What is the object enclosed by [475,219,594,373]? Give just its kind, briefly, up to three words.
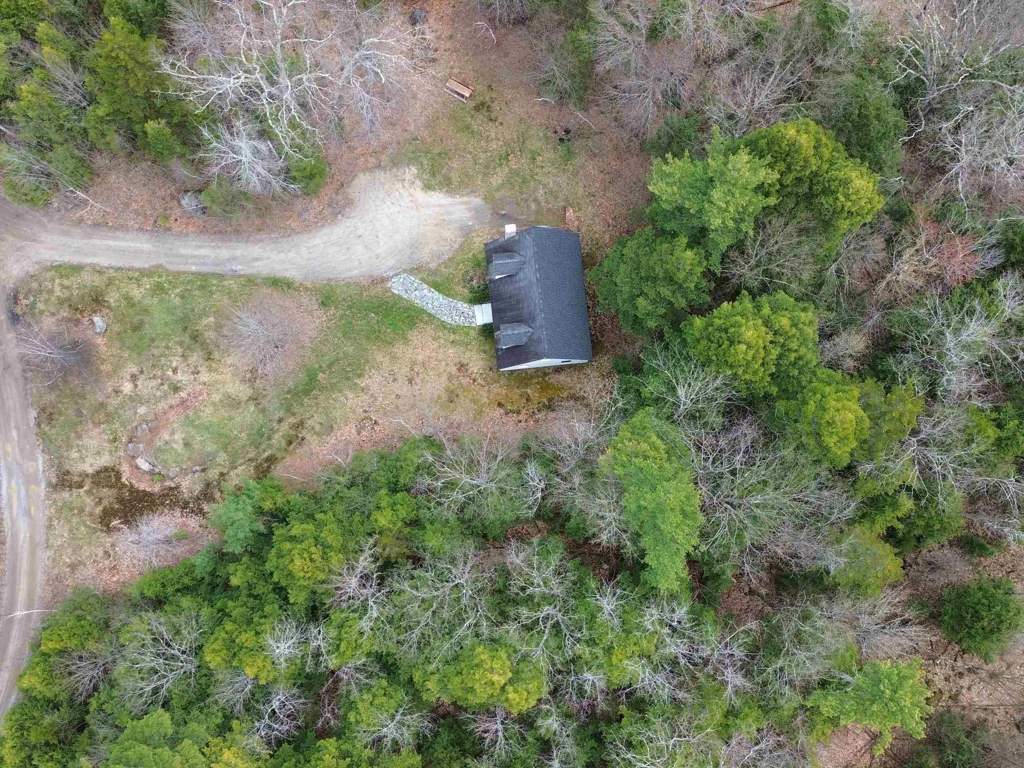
house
